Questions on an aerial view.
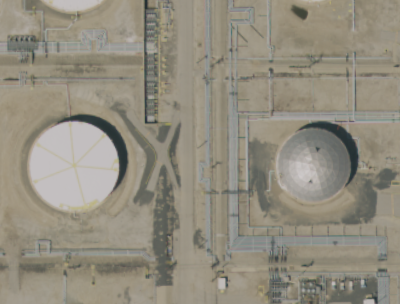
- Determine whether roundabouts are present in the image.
No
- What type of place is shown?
industrial area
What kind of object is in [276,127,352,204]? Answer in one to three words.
storage tank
